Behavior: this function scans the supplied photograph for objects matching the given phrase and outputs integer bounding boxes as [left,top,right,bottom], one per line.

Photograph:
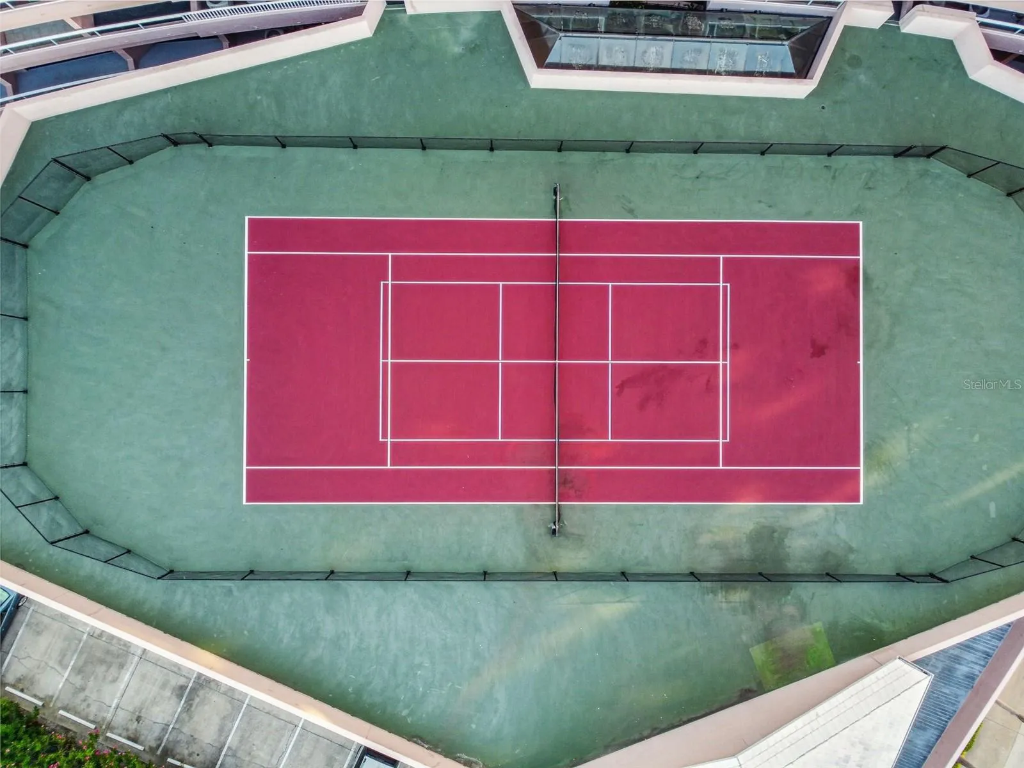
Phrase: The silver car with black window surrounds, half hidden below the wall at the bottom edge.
[353,748,400,768]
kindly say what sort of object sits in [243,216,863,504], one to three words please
tennis court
